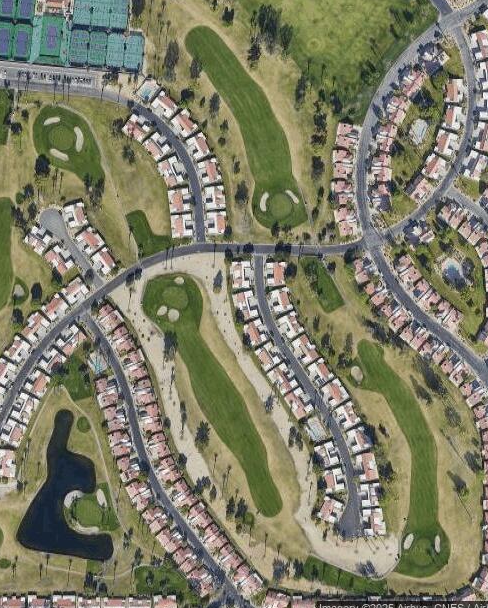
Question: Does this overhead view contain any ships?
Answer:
No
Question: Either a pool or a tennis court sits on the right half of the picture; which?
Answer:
pool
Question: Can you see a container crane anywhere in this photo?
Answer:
No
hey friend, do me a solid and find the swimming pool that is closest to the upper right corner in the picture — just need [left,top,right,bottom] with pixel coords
[411,119,427,143]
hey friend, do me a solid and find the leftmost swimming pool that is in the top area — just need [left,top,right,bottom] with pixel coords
[137,79,160,102]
